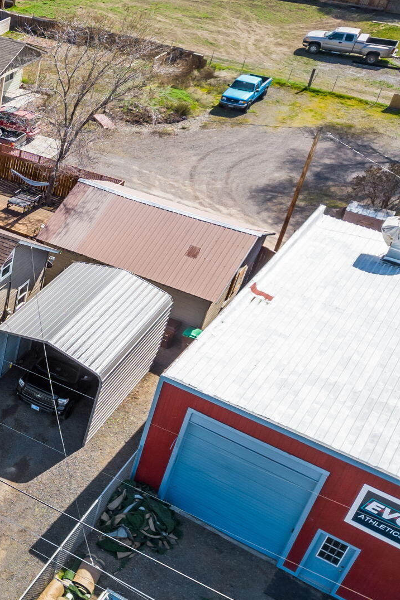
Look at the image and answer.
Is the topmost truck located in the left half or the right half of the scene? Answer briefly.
right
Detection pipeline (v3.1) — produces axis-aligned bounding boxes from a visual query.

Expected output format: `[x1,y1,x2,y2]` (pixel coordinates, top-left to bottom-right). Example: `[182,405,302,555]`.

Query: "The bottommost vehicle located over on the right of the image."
[219,70,280,108]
